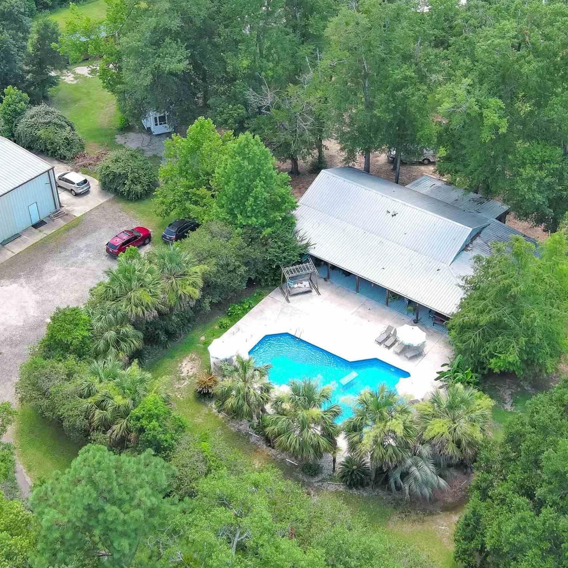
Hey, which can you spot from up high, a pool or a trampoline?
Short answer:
pool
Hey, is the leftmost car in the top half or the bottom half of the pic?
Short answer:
top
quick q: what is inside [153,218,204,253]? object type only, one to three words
car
